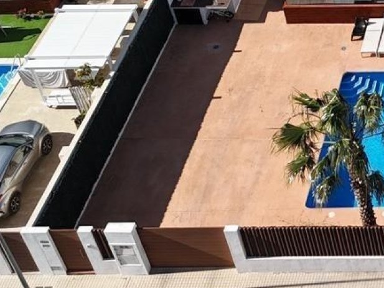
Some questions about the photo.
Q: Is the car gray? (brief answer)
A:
Yes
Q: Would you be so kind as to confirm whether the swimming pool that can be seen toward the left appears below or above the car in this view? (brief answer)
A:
above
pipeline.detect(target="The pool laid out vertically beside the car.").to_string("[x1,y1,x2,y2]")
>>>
[0,57,21,107]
